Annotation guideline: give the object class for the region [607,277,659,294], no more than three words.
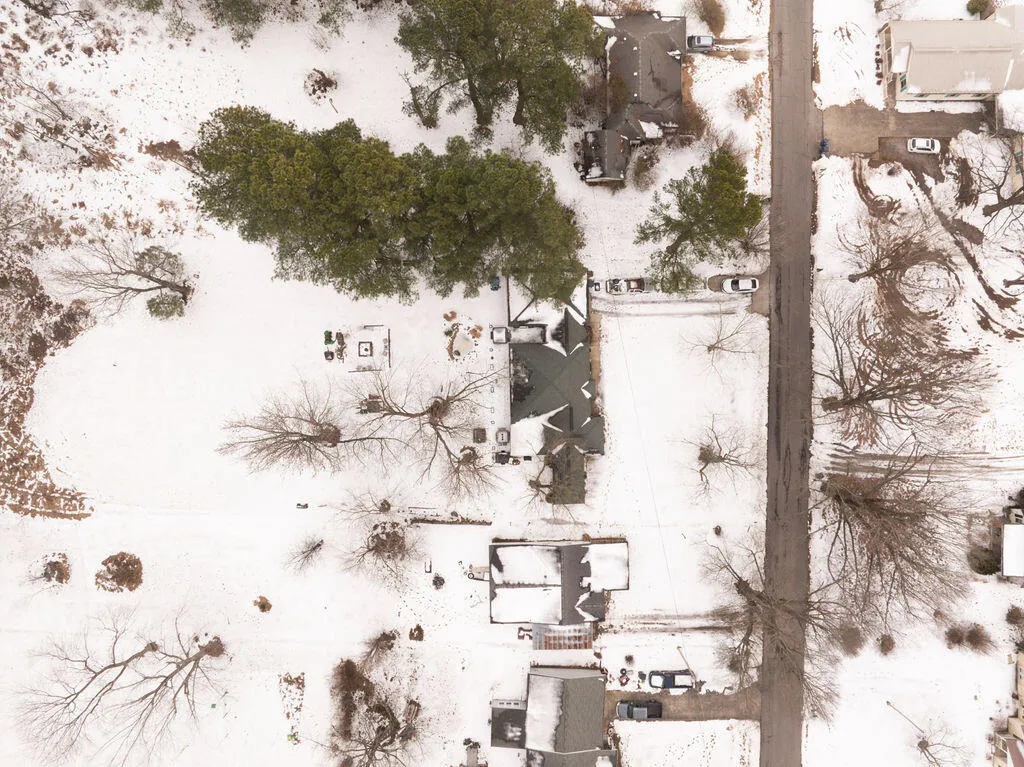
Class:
vehicle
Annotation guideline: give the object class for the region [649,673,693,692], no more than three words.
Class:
vehicle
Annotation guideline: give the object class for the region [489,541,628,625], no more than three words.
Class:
house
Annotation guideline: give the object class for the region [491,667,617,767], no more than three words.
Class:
house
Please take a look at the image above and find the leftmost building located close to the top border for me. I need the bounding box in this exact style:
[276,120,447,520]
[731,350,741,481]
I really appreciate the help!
[584,10,687,184]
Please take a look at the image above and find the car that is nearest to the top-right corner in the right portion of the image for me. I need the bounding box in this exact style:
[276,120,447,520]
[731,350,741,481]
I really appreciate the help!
[909,136,943,152]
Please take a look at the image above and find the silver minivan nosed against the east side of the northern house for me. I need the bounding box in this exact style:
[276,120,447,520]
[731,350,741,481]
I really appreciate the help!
[687,32,716,50]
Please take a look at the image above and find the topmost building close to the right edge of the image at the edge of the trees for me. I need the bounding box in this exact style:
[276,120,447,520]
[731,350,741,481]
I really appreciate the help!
[881,0,1024,106]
